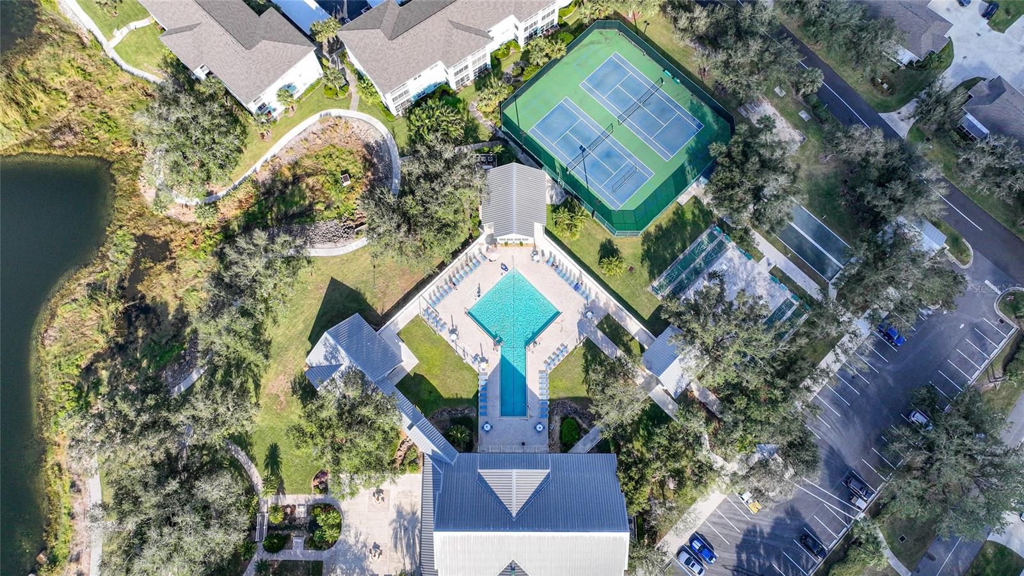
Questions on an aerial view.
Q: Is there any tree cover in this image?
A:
Yes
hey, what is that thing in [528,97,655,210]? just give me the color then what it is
blue tennis court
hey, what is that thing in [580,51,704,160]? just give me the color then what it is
blue tennis court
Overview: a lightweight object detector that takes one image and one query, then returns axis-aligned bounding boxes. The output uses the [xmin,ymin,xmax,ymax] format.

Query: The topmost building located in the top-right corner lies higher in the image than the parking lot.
[858,0,953,73]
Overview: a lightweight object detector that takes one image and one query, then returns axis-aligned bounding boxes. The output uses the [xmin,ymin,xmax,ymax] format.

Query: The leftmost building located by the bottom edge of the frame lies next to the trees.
[416,453,629,576]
